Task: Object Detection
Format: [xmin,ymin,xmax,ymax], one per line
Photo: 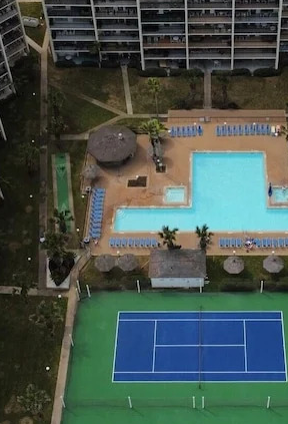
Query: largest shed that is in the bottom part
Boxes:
[161,248,212,284]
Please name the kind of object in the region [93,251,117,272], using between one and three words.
umbrella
